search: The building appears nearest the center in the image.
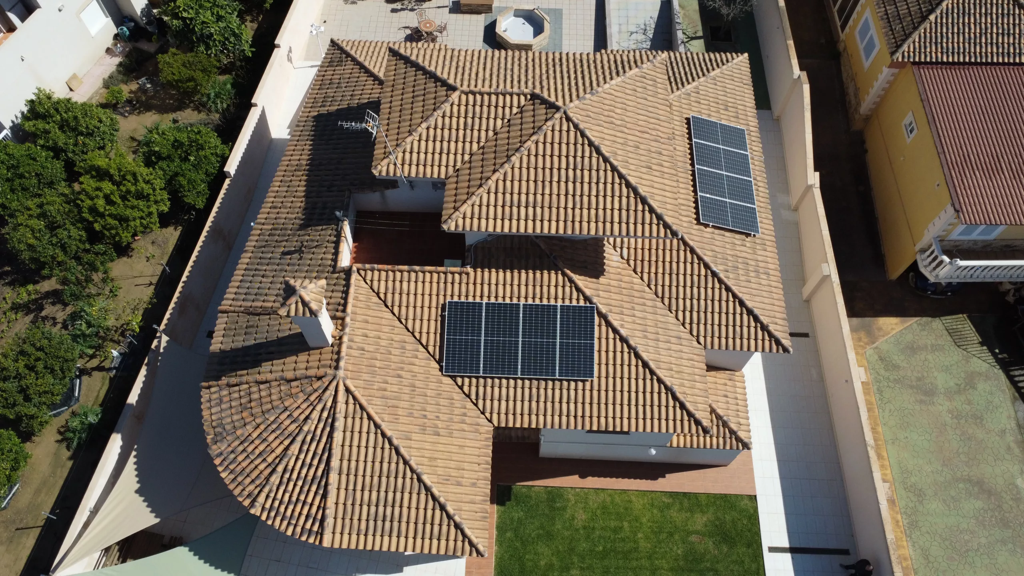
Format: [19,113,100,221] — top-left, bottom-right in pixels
[194,38,796,561]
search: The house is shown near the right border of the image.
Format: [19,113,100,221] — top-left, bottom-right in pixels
[823,0,1024,287]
